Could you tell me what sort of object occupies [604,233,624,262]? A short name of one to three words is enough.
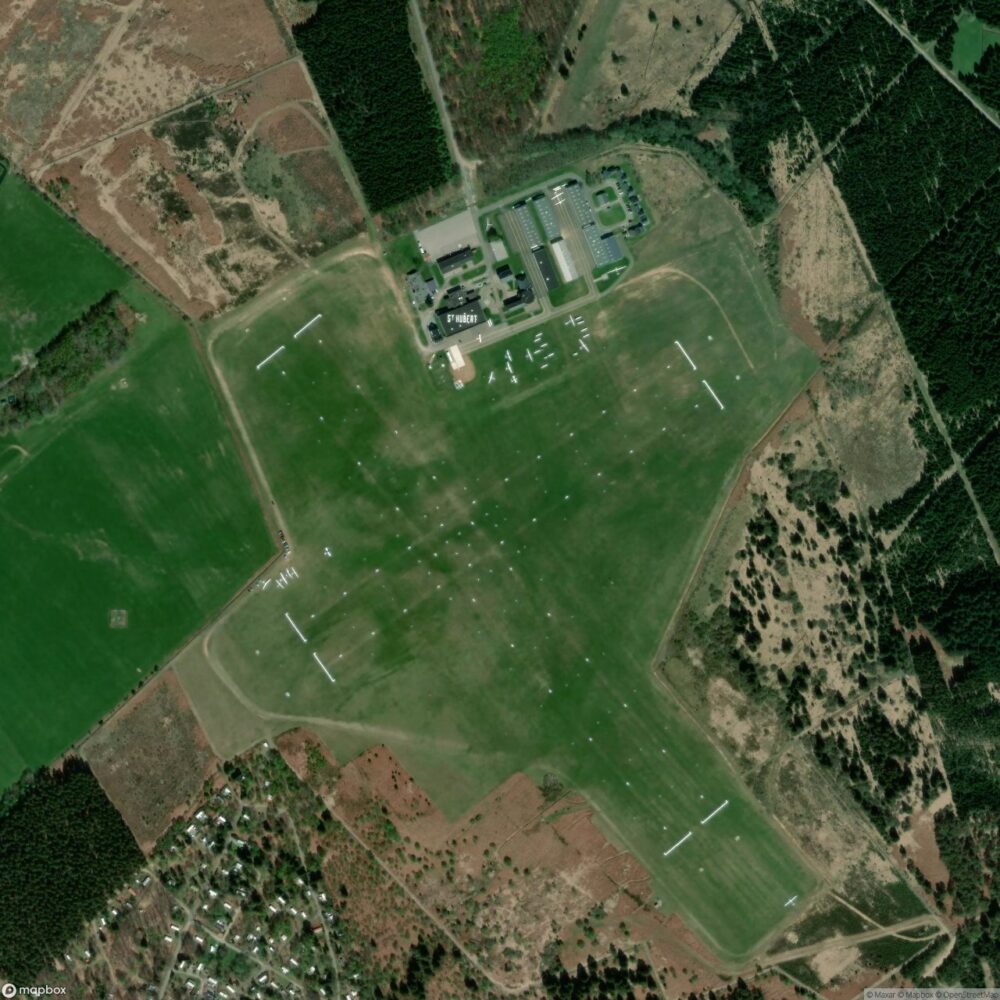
hangar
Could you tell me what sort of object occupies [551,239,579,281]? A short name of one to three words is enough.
hangar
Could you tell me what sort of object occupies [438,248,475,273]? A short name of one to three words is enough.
building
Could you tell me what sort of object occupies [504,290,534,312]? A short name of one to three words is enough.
building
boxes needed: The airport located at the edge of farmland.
[174,145,824,970]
